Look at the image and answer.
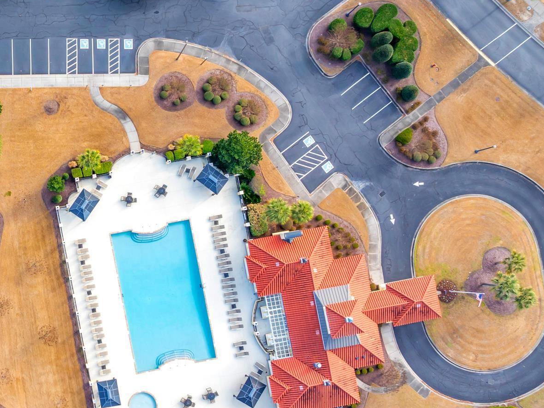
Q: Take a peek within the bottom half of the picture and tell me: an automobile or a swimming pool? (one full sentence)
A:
You can see a swimming pool within the bottom half of the picture.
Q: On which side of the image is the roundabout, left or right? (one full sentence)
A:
You can find the roundabout on the right side of the picture.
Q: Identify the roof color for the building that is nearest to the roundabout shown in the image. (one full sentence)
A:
The roof over the building that is nearest to the roundabout appears red.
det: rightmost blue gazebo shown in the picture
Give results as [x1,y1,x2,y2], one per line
[231,373,267,408]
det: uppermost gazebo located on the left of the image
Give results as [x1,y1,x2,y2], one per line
[192,163,228,196]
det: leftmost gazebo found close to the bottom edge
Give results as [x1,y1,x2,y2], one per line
[95,376,121,408]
